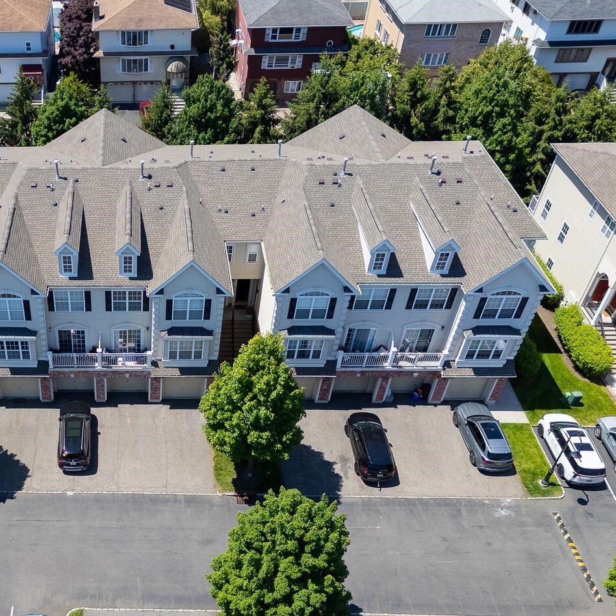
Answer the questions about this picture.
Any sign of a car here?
Yes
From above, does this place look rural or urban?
urban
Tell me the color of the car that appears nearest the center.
black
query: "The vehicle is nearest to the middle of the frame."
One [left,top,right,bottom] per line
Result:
[344,412,397,484]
